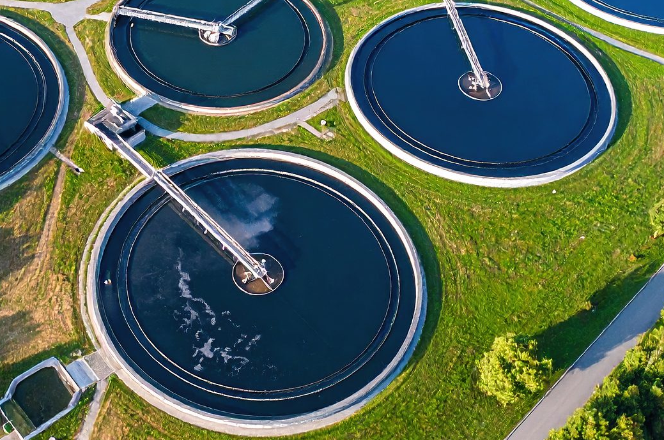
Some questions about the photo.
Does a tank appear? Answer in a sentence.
Yes, looking at the shot, I can spot a tank.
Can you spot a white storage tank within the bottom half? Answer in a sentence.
No, I see no white storage tank within the bottom half.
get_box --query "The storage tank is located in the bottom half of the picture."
[78,156,426,437]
